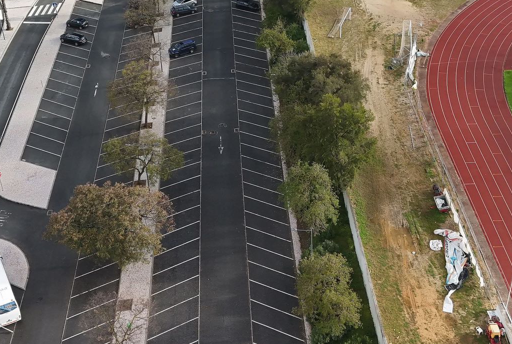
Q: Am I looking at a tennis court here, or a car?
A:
car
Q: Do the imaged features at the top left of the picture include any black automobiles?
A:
Yes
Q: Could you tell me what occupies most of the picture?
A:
paved ground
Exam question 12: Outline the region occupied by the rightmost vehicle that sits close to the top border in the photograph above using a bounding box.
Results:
[231,0,261,12]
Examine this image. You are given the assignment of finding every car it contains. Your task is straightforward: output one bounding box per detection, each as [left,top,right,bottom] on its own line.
[167,4,199,20]
[231,0,261,12]
[57,32,89,48]
[165,36,199,58]
[63,17,91,32]
[170,0,198,7]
